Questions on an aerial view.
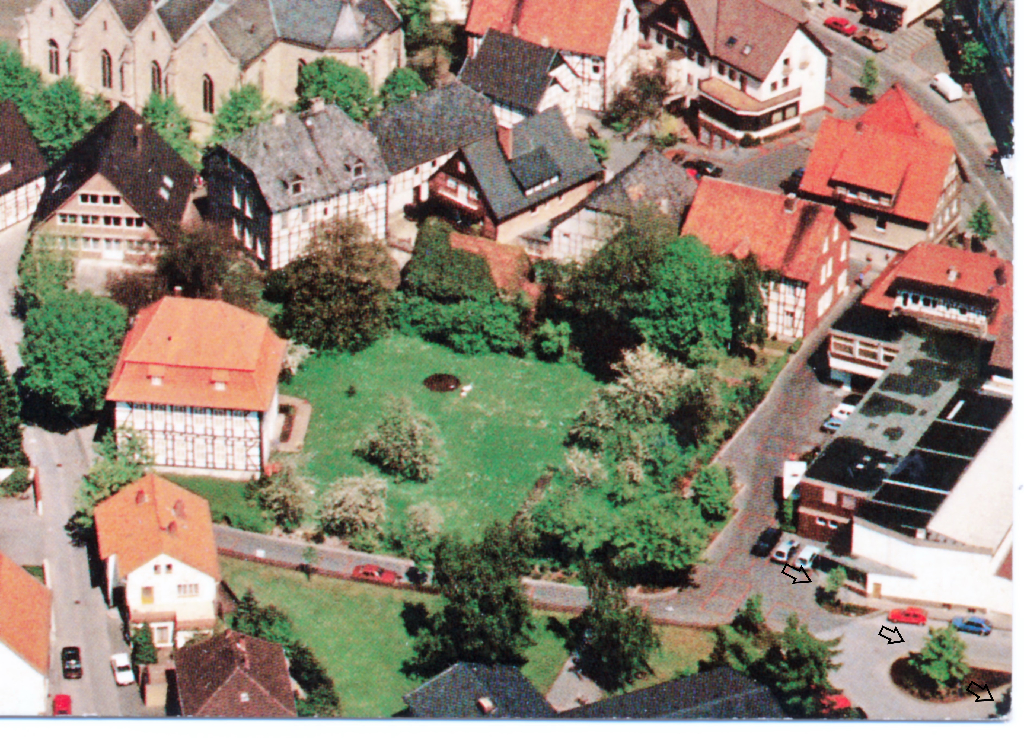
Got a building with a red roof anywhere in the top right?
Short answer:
Yes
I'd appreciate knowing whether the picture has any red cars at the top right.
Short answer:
Yes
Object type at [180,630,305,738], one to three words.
house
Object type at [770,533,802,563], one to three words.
car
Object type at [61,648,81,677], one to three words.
car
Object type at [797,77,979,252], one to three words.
house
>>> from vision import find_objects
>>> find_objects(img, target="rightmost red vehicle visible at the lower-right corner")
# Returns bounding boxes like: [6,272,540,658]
[886,605,929,627]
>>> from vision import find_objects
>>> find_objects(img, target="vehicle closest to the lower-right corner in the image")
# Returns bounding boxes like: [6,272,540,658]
[950,614,994,637]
